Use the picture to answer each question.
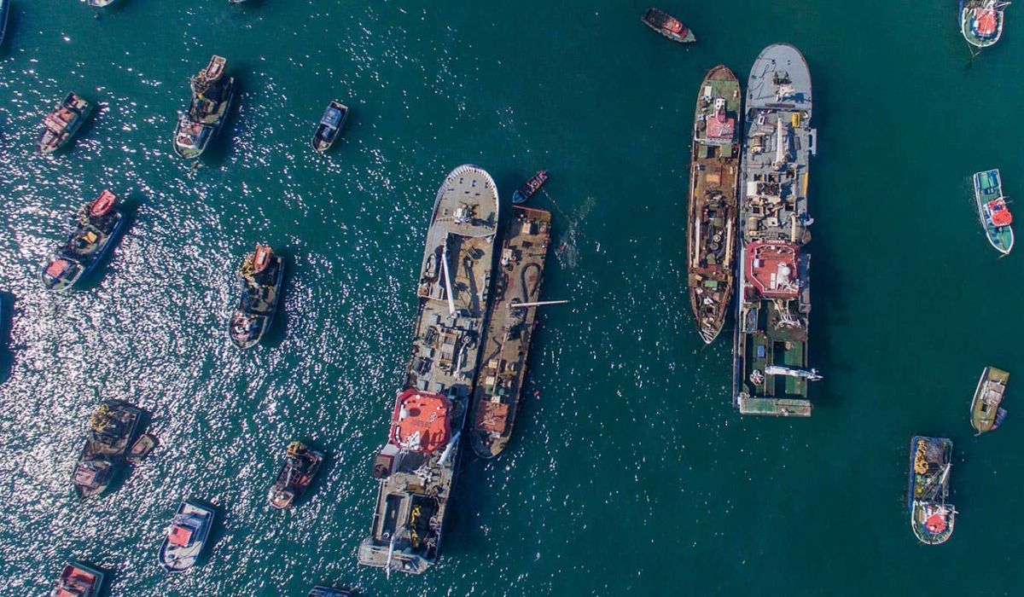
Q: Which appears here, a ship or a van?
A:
ship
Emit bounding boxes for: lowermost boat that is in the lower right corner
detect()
[907,437,959,544]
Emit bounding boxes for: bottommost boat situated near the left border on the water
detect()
[47,561,104,597]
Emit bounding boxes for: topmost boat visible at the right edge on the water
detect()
[960,0,1011,57]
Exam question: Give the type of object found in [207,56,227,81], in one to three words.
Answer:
boat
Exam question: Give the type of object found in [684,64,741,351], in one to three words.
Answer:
ship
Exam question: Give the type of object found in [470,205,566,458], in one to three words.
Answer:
ship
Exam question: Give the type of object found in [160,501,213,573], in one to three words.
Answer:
boat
